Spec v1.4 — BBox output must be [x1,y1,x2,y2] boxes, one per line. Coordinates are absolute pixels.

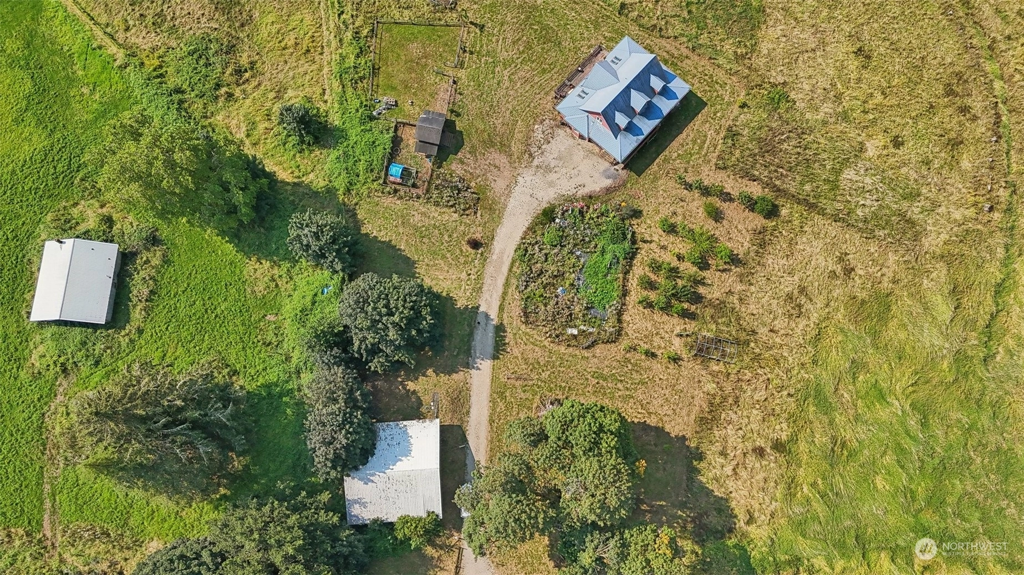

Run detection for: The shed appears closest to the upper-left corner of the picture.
[29,238,126,324]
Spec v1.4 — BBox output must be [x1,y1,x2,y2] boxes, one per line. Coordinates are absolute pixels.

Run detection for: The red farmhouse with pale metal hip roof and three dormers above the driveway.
[553,35,691,167]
